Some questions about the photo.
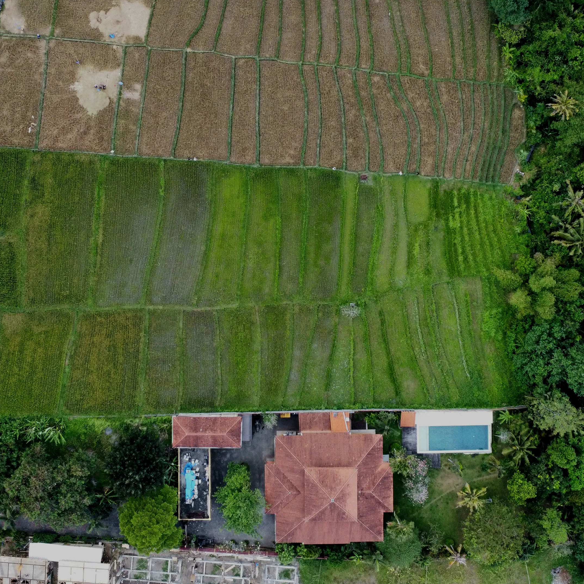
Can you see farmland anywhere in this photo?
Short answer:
Yes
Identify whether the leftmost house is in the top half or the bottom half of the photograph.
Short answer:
bottom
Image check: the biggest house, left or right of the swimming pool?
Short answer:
left of it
